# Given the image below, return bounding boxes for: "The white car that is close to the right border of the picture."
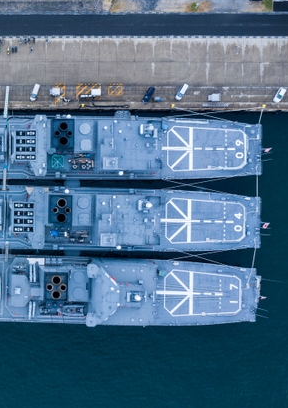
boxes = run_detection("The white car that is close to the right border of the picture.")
[274,86,288,102]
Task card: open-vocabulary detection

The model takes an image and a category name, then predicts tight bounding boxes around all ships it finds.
[0,114,274,180]
[0,253,287,326]
[0,185,270,250]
